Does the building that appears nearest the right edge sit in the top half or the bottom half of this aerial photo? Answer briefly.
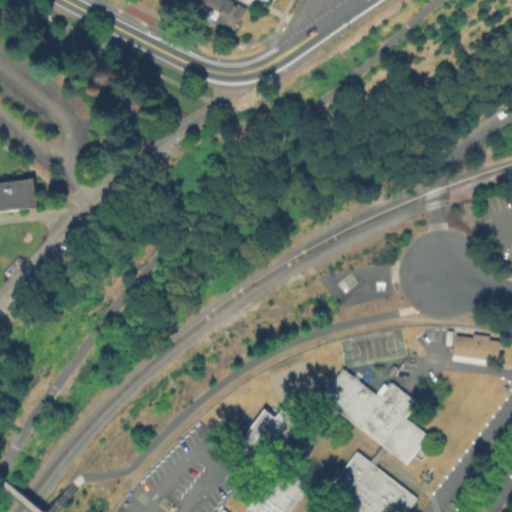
bottom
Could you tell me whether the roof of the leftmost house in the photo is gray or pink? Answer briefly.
gray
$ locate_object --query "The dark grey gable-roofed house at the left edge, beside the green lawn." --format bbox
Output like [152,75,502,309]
[0,178,35,208]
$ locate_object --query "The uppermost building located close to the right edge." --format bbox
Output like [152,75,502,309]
[452,336,502,366]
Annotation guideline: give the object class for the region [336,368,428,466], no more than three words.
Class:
building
